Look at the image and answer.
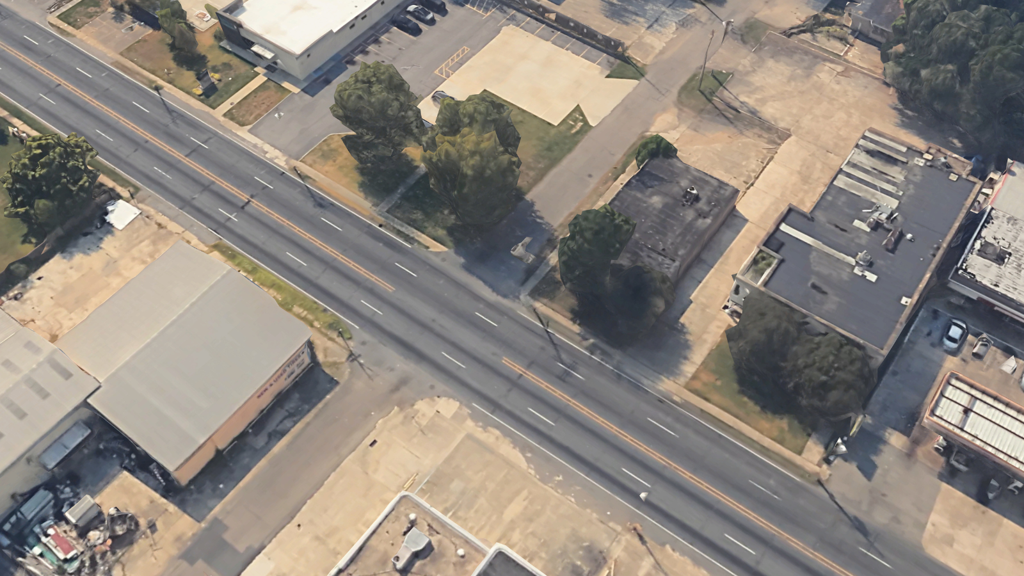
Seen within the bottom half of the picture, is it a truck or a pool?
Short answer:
truck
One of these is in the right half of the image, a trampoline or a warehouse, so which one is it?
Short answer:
warehouse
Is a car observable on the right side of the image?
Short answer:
Yes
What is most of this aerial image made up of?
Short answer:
paved ground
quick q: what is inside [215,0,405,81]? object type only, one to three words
building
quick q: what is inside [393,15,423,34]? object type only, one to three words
car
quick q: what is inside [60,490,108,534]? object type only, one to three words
trailer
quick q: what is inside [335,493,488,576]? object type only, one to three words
building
